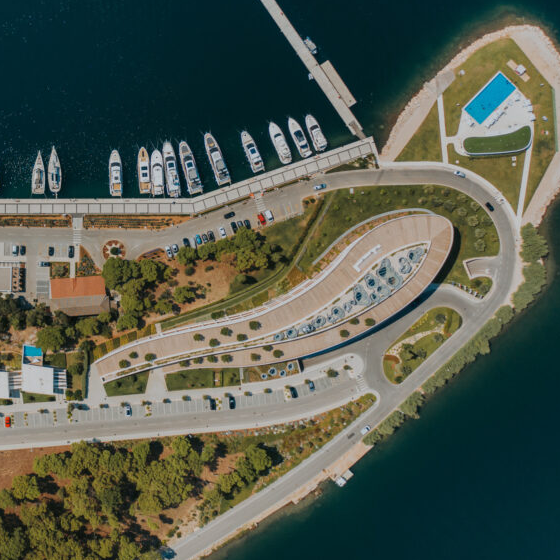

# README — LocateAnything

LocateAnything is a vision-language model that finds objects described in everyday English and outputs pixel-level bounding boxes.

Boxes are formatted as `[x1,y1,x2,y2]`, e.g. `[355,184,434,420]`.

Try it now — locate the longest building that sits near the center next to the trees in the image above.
[95,213,454,383]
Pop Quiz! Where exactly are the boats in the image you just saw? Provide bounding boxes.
[150,145,164,198]
[32,151,45,197]
[242,131,267,174]
[158,132,181,198]
[48,140,62,198]
[305,113,328,153]
[136,143,152,198]
[287,117,313,159]
[178,139,202,196]
[266,121,293,166]
[109,144,123,198]
[201,130,231,187]
[306,40,314,51]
